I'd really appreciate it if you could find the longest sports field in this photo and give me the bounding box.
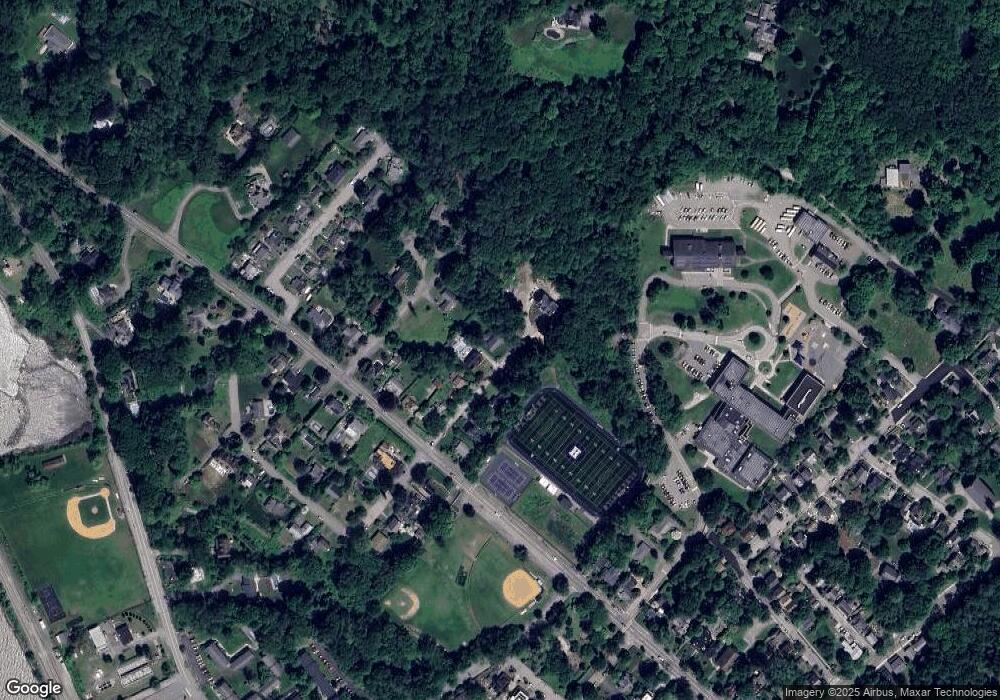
[511,393,639,513]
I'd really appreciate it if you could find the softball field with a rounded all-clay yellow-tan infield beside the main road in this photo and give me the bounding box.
[503,569,541,607]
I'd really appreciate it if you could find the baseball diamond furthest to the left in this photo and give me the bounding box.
[66,488,115,538]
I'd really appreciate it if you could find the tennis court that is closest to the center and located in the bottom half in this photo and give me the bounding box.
[480,452,533,506]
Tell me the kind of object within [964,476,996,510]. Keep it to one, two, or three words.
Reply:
building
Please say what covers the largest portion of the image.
trees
